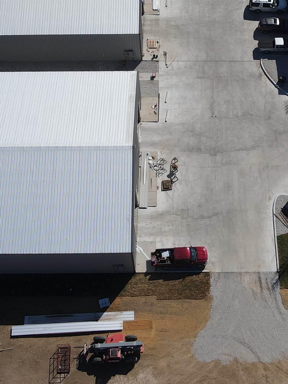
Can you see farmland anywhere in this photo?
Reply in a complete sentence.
No, farmland can't be seen anywhere here.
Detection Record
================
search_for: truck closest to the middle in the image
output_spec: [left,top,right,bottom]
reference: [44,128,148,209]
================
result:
[150,243,210,270]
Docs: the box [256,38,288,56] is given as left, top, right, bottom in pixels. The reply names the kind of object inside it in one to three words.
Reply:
vehicle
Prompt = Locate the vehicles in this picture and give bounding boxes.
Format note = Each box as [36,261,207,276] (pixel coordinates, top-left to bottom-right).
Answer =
[247,0,288,15]
[72,334,144,368]
[256,38,288,56]
[256,17,288,38]
[150,243,210,270]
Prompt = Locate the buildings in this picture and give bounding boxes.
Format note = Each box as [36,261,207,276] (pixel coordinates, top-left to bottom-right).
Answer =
[0,0,144,62]
[0,69,141,274]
